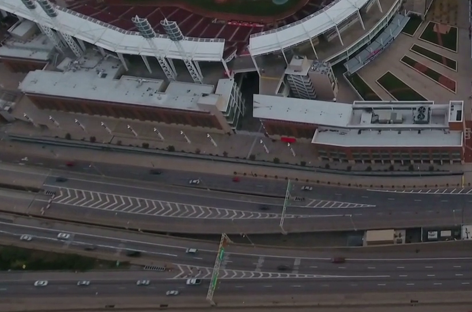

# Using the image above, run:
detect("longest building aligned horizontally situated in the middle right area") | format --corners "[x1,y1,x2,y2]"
[253,95,464,163]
